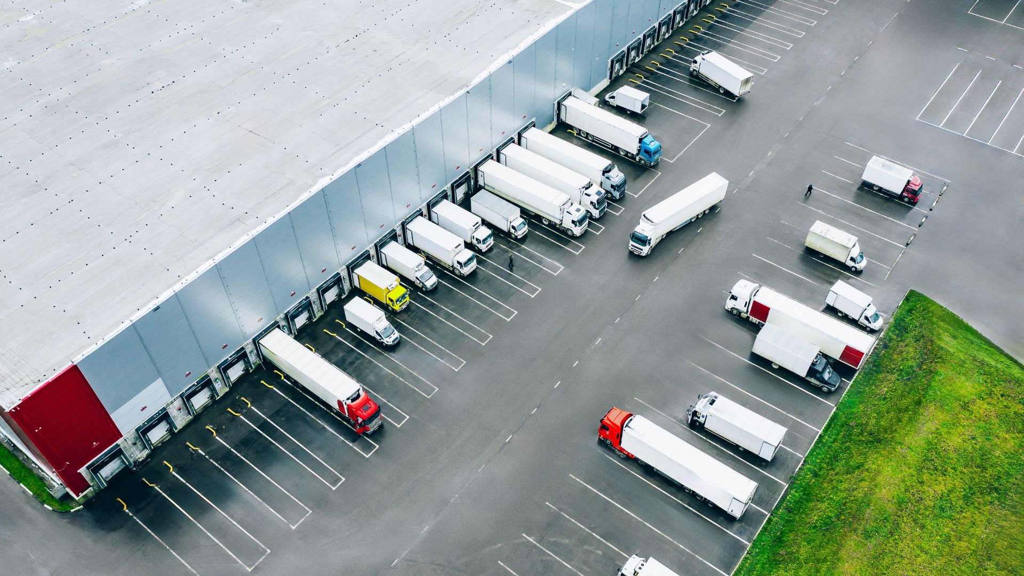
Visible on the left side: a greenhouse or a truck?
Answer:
truck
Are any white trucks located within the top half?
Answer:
Yes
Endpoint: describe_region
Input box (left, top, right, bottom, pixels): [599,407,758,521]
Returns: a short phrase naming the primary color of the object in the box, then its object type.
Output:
white truck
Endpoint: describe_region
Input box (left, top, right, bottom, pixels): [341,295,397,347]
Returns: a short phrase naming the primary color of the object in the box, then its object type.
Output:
white van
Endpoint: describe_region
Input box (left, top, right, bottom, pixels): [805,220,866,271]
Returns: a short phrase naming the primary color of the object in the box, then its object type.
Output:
white van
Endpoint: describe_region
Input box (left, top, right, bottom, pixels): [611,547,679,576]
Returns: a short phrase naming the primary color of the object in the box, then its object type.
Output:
white truck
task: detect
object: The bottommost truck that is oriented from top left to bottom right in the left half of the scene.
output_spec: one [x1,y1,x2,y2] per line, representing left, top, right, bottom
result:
[259,329,384,437]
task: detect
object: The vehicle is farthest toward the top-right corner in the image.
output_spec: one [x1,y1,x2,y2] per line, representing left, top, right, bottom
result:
[861,156,927,204]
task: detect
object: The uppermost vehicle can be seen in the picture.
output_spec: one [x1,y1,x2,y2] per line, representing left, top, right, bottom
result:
[686,54,748,99]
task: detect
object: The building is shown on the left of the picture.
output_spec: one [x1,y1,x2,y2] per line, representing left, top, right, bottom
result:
[0,0,718,510]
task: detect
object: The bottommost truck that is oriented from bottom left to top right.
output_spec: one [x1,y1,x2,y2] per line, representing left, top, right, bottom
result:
[627,167,723,255]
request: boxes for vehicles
[861,156,927,204]
[689,391,786,462]
[561,97,664,165]
[523,126,629,199]
[805,220,866,271]
[482,157,592,235]
[627,167,723,255]
[341,295,397,347]
[599,407,758,521]
[470,188,529,238]
[824,280,883,330]
[259,329,384,437]
[753,322,842,394]
[355,261,410,312]
[605,85,649,117]
[409,216,478,276]
[686,54,748,99]
[725,282,875,374]
[382,242,435,290]
[433,198,494,251]
[611,547,679,576]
